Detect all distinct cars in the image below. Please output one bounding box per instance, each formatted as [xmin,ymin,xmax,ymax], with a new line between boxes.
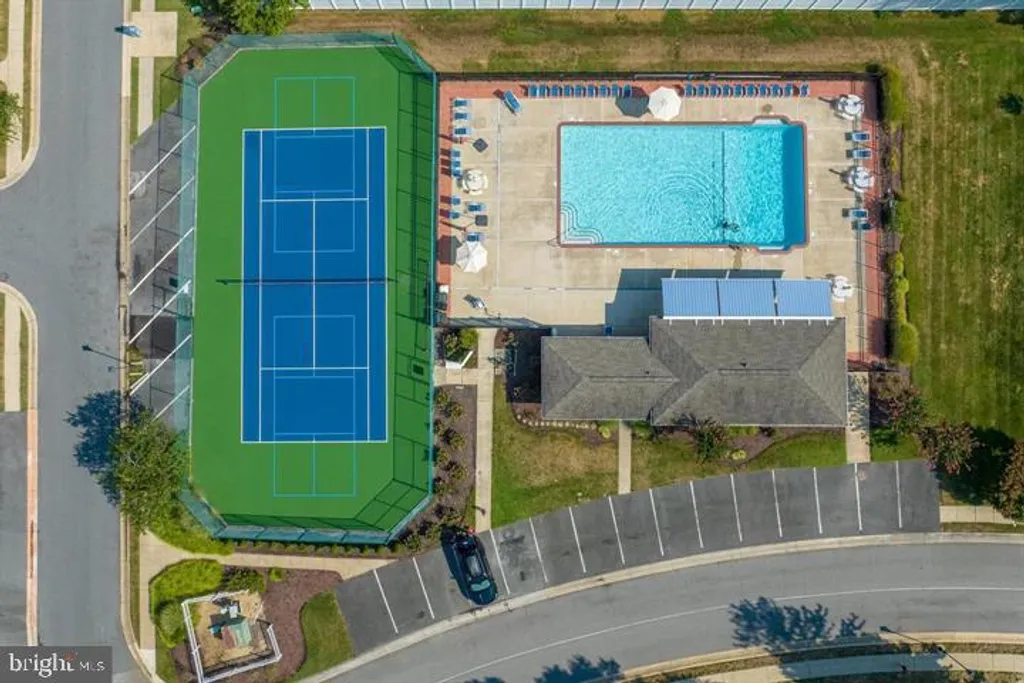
[449,530,491,609]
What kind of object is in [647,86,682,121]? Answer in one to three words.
umbrella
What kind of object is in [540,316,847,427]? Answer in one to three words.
building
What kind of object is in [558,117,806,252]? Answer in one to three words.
swimming pool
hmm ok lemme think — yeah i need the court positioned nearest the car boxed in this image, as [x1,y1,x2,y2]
[190,45,439,534]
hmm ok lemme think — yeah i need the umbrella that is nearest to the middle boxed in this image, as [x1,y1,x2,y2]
[455,240,488,273]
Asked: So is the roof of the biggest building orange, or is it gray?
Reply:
gray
